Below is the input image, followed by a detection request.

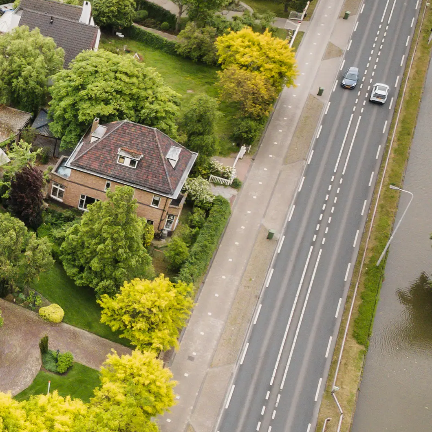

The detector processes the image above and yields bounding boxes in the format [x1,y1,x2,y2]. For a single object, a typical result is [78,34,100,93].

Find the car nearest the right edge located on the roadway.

[370,84,391,105]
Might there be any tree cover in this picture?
Yes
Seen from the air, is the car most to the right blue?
No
